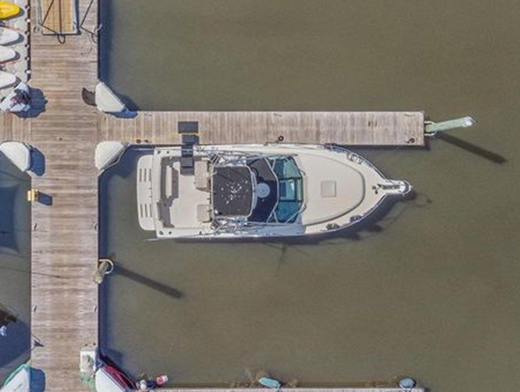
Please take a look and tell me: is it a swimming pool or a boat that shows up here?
boat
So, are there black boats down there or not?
Yes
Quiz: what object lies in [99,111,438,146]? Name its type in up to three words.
pier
